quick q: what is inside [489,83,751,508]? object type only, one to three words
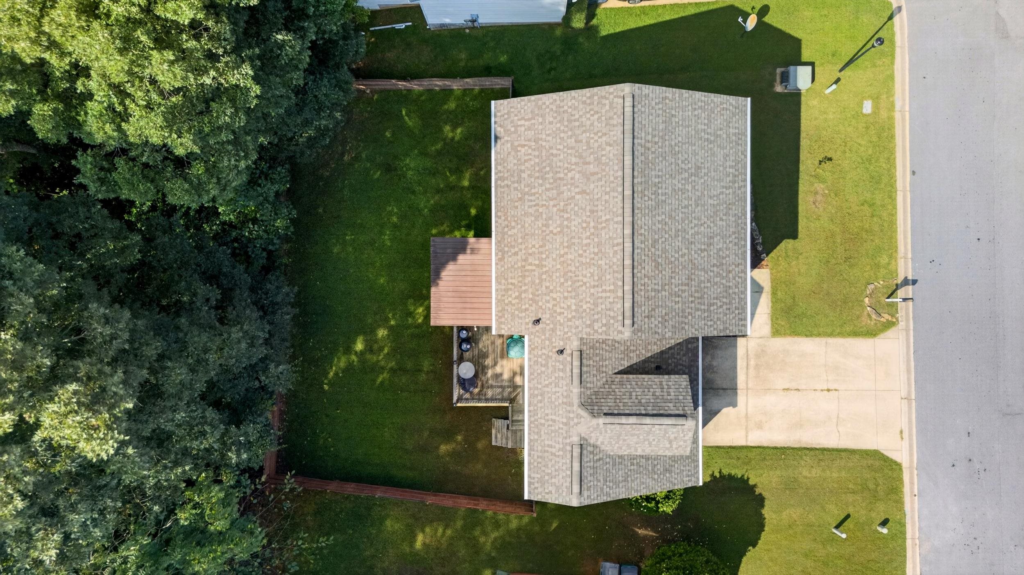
house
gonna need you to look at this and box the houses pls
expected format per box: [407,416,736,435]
[325,0,567,30]
[489,83,751,508]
